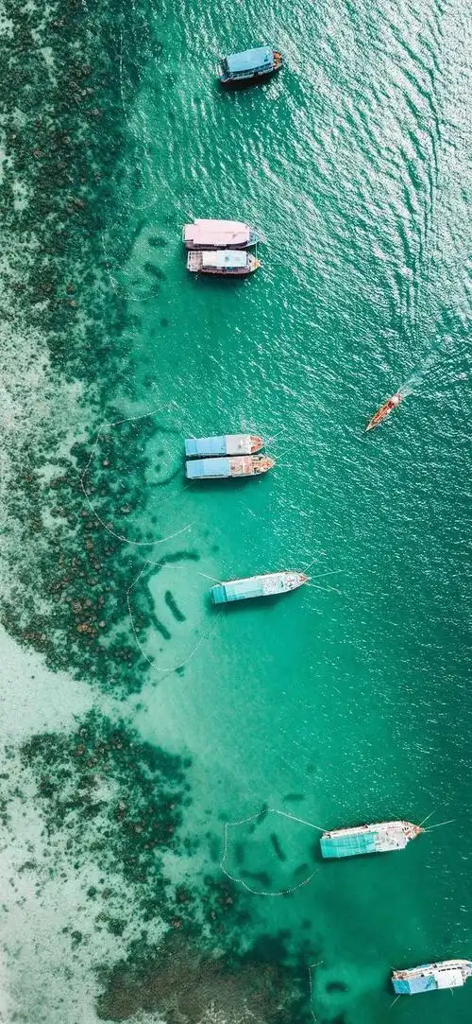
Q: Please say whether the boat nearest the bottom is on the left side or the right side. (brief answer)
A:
right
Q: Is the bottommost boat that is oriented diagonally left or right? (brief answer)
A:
right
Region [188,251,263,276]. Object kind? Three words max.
boat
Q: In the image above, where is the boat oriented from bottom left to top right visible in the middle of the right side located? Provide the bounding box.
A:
[367,384,409,431]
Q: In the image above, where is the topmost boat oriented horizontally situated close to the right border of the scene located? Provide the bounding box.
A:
[304,812,456,860]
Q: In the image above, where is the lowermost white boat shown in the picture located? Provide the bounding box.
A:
[387,955,472,1008]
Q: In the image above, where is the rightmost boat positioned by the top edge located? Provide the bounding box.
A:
[218,51,290,89]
